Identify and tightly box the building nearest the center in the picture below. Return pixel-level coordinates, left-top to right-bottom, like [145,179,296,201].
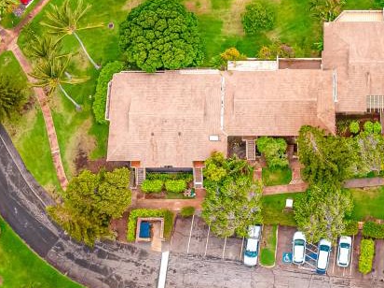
[106,68,228,191]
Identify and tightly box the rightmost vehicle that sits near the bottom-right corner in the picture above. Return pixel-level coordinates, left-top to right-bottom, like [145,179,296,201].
[337,234,351,267]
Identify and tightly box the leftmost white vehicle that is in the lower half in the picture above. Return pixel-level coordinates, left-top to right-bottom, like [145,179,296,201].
[243,226,260,266]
